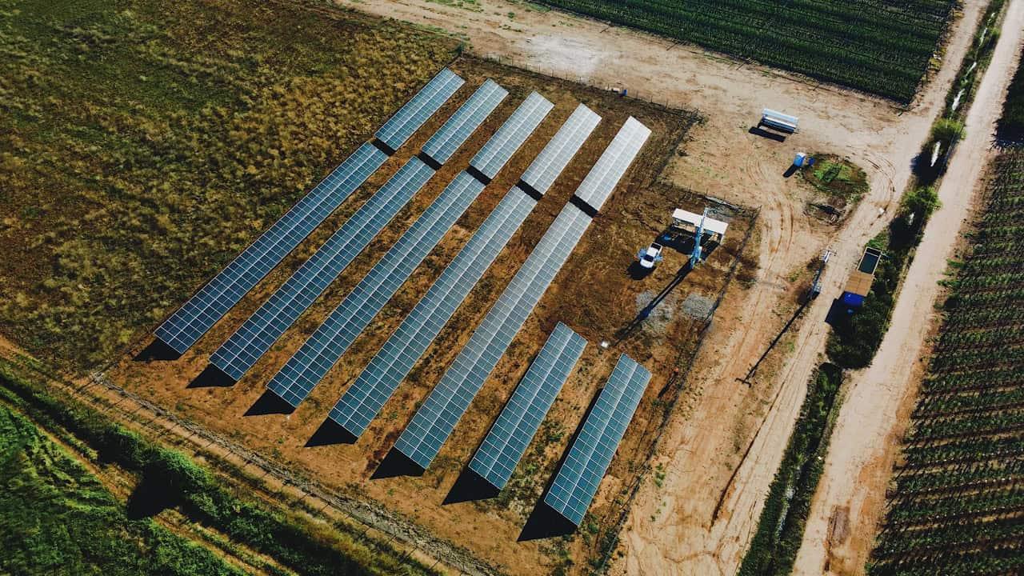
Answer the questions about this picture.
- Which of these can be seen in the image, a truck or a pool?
truck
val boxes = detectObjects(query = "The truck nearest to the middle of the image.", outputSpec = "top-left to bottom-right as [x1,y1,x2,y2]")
[640,242,664,269]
